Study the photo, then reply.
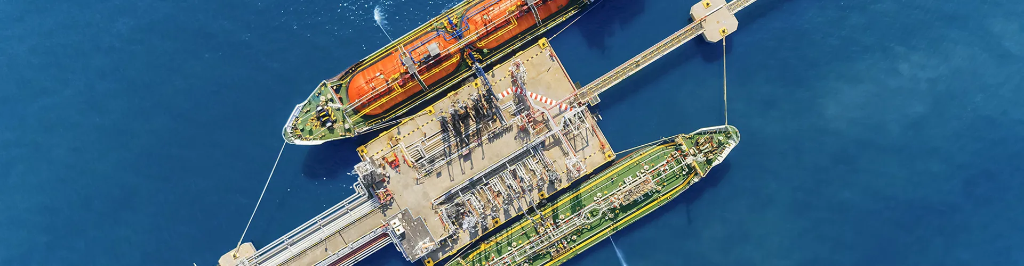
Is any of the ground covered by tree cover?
No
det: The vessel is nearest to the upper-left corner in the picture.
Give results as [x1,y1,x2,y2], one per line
[284,0,599,147]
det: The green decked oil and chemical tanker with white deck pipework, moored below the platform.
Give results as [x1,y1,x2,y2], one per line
[438,123,740,266]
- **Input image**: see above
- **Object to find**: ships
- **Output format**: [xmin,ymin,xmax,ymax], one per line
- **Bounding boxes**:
[284,0,599,147]
[438,123,740,266]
